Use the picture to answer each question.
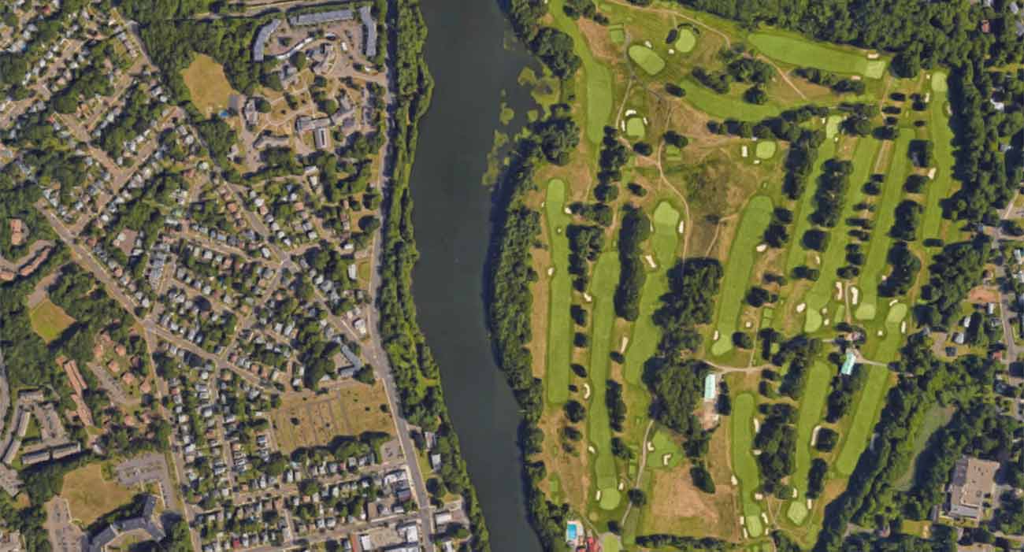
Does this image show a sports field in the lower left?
Yes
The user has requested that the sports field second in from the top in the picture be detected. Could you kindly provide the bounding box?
[30,299,76,344]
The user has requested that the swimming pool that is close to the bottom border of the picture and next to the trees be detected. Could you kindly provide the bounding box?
[566,521,584,551]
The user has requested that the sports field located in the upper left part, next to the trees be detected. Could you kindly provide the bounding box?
[181,53,232,118]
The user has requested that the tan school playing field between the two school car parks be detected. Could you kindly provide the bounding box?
[60,465,141,526]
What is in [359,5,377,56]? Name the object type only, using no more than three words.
building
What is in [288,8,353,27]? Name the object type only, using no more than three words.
building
